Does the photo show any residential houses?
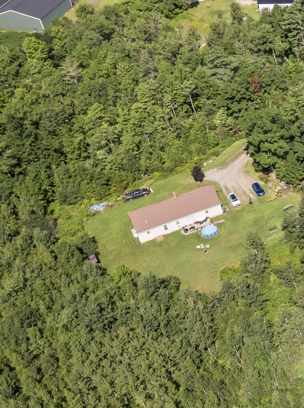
Yes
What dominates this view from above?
trees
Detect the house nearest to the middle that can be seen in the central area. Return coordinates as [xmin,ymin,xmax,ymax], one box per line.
[128,183,224,242]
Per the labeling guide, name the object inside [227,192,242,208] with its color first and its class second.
white car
